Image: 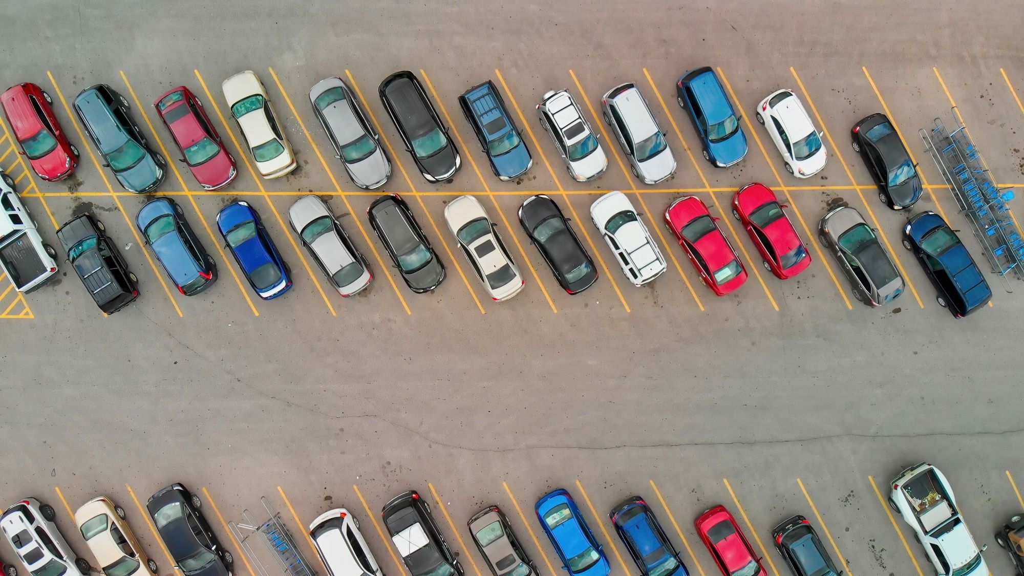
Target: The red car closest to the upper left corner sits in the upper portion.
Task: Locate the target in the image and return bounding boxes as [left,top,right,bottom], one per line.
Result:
[1,82,83,181]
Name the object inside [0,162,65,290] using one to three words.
truck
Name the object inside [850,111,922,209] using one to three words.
car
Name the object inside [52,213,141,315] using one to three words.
car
